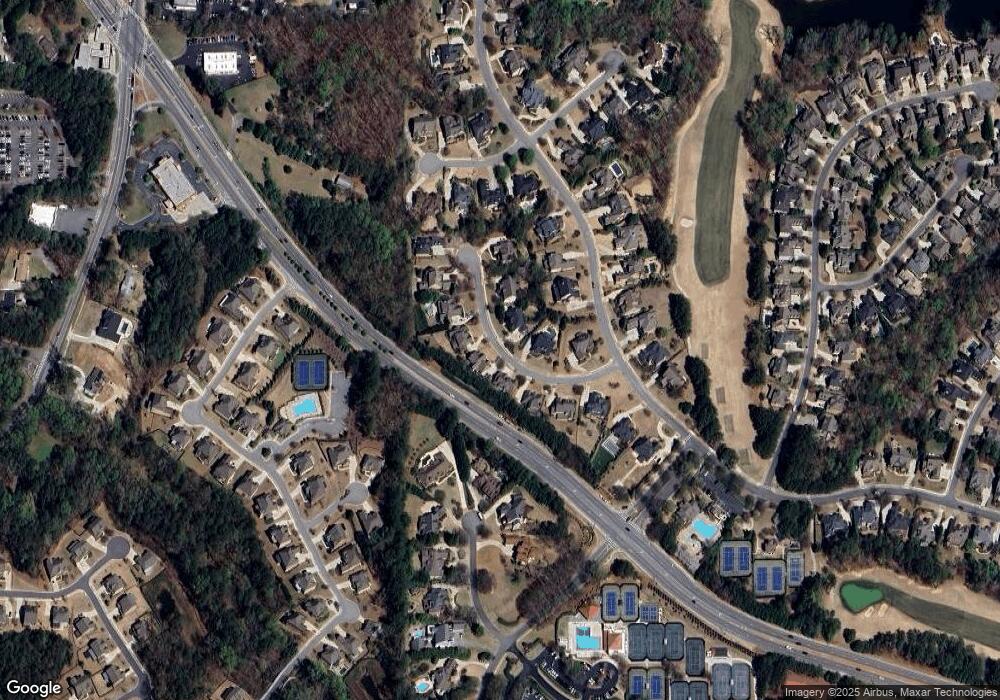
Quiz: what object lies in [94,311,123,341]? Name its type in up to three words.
house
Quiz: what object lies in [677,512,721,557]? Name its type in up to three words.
swimming pool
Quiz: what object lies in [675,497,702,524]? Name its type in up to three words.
building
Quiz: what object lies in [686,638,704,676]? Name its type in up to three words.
tennis court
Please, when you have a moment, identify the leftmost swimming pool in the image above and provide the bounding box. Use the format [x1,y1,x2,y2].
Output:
[120,316,135,338]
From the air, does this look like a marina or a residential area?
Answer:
residential area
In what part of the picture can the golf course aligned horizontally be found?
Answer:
bottom right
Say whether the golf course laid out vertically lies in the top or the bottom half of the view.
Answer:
top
